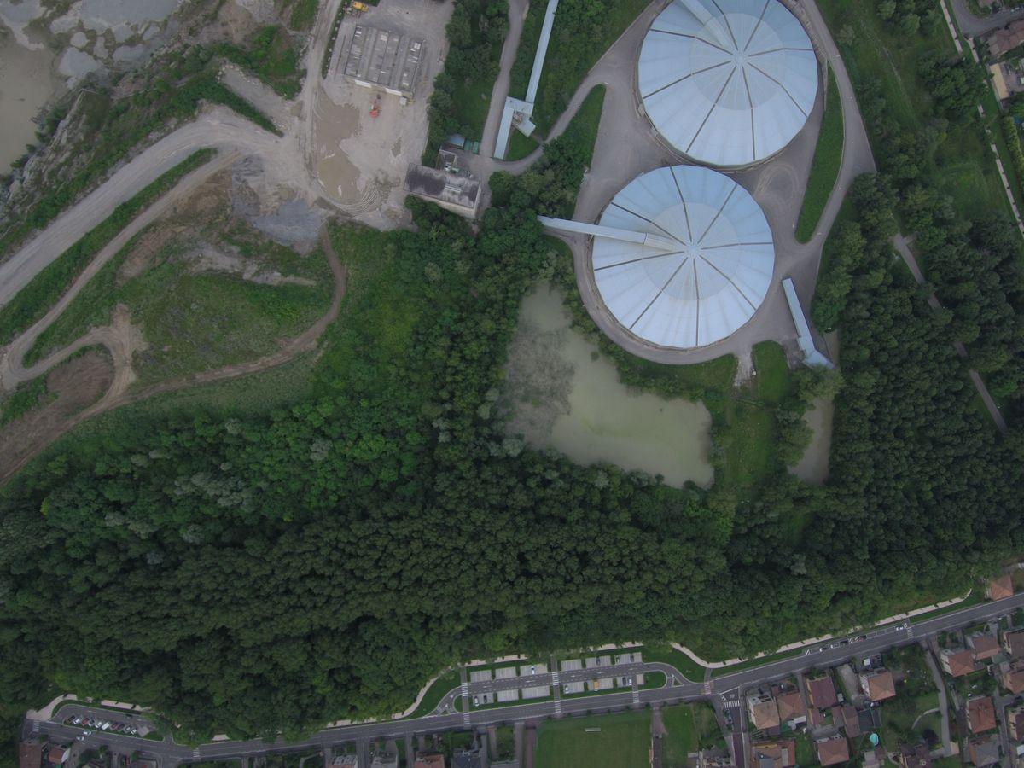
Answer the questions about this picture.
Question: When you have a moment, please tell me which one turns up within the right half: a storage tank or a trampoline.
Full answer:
The feature located within the right half is a storage tank.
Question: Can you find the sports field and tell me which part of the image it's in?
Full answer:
You can find the sports field in the bottom area of the picture.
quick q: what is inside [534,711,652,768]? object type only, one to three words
sports field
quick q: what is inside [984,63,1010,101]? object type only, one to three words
building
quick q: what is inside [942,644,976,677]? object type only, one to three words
house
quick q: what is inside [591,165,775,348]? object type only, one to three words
storage tank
